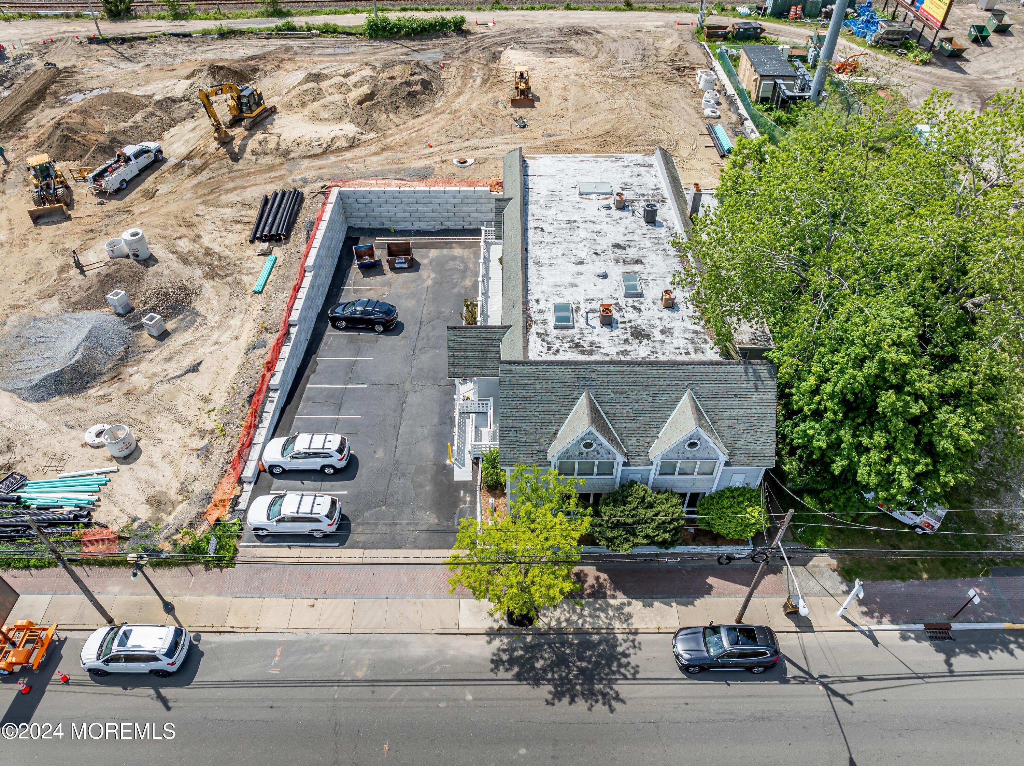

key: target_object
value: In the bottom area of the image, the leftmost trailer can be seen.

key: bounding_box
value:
[0,577,55,678]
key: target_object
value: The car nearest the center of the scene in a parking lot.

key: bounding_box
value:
[326,298,398,332]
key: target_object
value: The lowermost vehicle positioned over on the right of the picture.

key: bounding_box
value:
[677,624,785,679]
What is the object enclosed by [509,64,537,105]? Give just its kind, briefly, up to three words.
work vehicle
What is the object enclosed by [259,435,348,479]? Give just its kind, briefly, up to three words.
car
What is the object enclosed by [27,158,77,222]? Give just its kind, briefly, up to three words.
work vehicle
